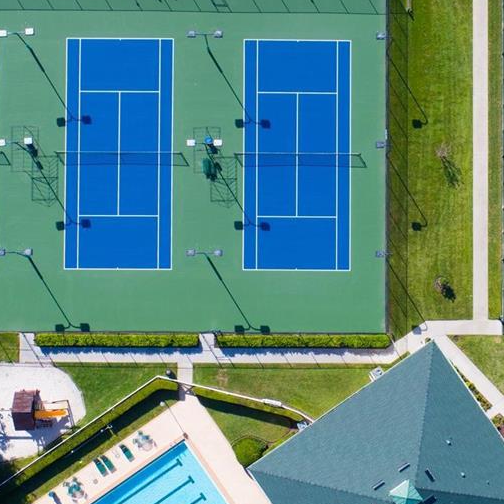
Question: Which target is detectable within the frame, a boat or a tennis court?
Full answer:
Visible in the photo is a tennis court.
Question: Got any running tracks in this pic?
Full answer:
No, the scene contains no running track.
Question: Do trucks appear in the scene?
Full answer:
No, I can see no truck in this picture.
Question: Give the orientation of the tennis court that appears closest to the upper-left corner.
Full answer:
From this overhead view, the tennis court that appears closest to the upper-left corner appears to run from top to bottom.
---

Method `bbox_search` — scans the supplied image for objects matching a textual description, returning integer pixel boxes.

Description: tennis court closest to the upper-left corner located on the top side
[64,37,174,270]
